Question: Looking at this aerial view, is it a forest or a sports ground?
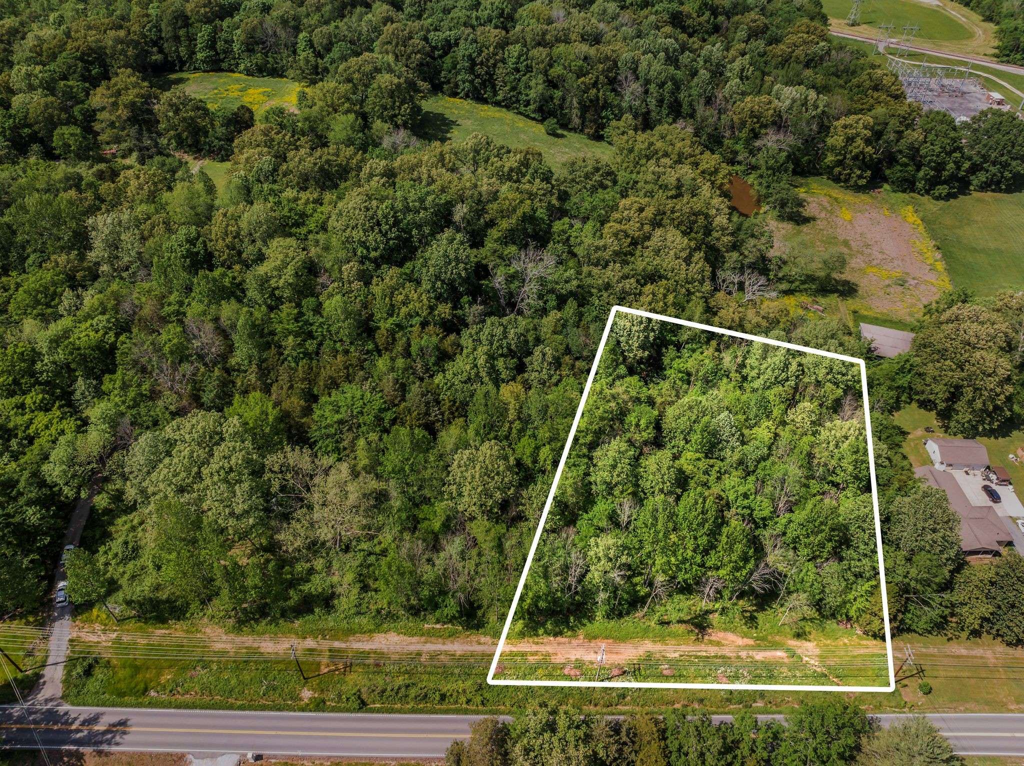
forest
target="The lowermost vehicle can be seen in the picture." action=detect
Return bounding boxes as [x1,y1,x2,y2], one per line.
[53,582,67,604]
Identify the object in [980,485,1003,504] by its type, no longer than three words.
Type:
car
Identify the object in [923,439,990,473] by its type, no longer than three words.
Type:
building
